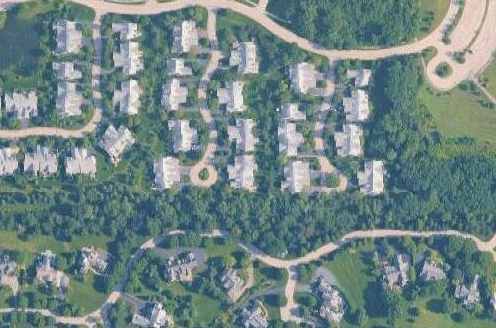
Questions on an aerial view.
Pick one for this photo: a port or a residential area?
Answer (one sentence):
The picture captures a residential area.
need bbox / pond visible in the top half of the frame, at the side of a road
[0,11,41,73]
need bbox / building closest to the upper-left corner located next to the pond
[52,19,82,54]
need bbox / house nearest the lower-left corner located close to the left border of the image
[0,251,21,294]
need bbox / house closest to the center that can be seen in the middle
[227,154,260,191]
